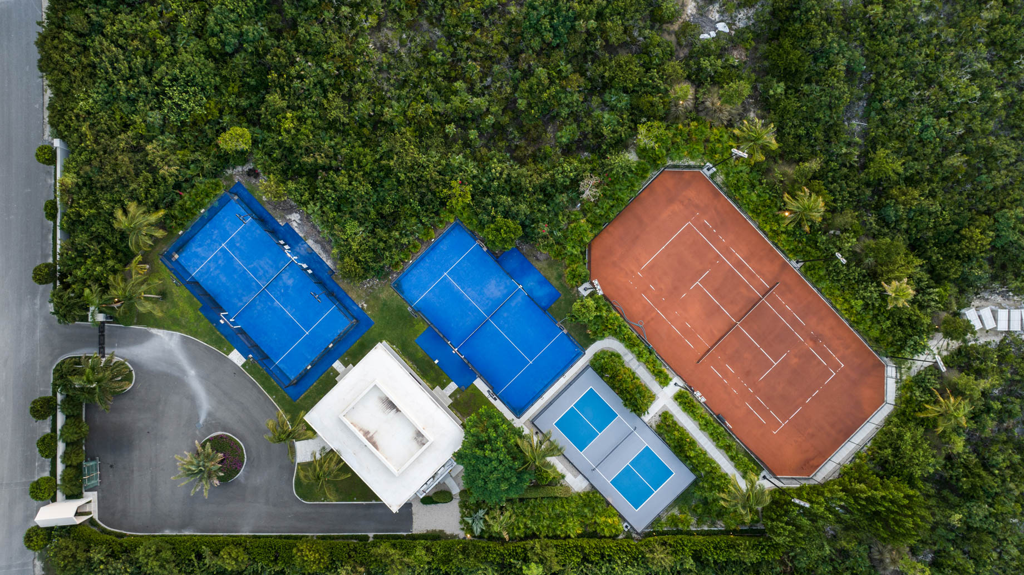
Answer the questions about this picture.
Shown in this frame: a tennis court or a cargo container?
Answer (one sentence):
Visible in the photo is a tennis court.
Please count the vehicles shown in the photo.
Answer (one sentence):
The photo contains no vehicles.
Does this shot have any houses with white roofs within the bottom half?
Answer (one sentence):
Yes, a house with a white roof appears within the bottom half.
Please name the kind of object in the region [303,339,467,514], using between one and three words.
house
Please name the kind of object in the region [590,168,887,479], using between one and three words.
tennis court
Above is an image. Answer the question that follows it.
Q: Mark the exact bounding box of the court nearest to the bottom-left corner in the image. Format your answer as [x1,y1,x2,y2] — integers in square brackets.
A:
[160,182,374,401]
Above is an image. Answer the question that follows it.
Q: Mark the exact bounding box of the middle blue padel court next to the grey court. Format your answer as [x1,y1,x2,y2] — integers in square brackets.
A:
[393,221,582,413]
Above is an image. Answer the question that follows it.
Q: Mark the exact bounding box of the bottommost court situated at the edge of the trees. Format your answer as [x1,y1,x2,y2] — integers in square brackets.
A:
[534,368,696,533]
